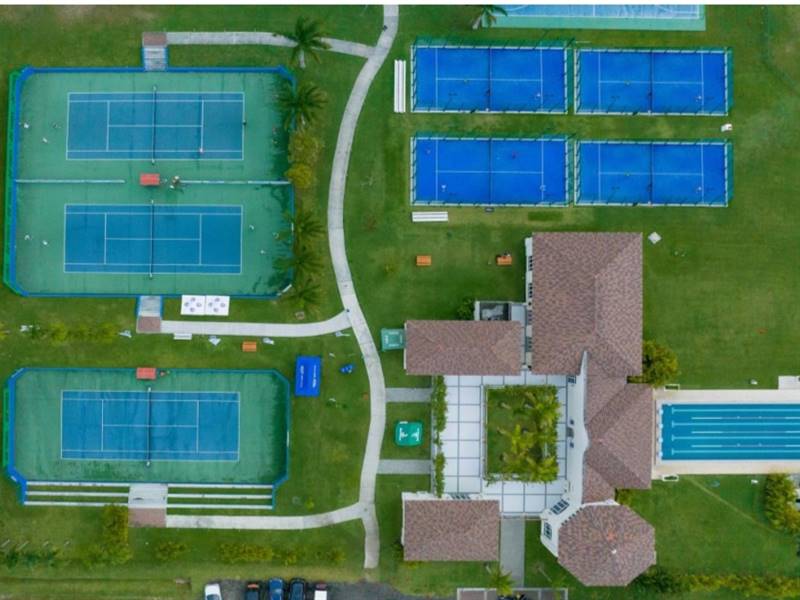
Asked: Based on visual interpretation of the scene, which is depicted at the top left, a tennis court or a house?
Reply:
tennis court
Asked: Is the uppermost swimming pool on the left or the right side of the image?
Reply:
right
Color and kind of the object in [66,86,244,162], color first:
blue tennis court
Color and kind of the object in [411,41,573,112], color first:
blue sports court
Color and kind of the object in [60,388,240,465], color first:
blue tennis court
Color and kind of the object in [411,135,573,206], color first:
blue sports court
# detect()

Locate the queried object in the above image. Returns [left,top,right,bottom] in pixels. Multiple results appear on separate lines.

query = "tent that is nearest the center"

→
[380,329,405,350]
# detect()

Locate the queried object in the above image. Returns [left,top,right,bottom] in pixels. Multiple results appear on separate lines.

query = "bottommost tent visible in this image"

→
[394,420,422,446]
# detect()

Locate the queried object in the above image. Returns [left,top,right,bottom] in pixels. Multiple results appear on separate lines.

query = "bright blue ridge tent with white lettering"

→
[295,355,321,396]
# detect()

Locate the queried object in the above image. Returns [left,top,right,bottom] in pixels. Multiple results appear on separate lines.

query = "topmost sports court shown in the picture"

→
[483,0,705,29]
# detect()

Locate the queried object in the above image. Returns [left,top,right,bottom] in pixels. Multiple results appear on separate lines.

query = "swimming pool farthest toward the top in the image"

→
[652,388,800,475]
